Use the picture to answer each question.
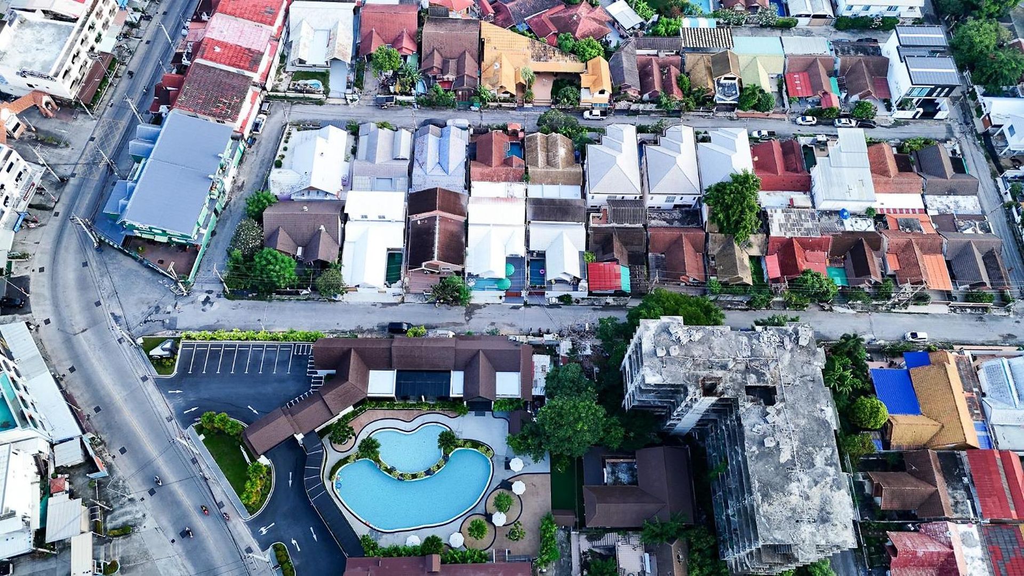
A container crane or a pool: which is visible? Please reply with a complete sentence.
Looking from above, you can make out a pool.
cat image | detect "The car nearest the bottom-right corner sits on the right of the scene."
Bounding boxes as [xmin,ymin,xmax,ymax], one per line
[906,330,930,342]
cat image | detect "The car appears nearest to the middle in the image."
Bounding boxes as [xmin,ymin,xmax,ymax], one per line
[386,321,413,334]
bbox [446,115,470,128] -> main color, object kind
white vehicle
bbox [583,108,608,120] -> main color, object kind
white vehicle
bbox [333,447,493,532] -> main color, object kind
blue swimming pool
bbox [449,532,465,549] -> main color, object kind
white umbrella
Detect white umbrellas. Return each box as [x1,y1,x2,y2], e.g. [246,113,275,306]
[491,511,507,528]
[404,532,421,550]
[449,532,465,549]
[511,479,527,496]
[508,457,525,473]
